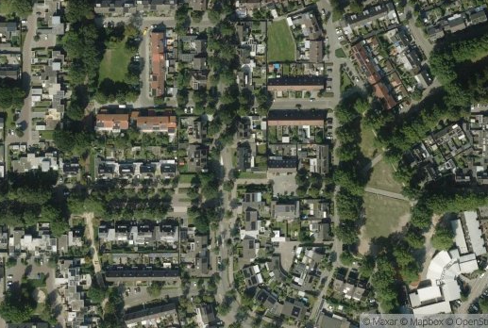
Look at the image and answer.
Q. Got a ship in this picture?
No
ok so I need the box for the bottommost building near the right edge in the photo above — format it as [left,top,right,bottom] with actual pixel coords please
[409,211,487,328]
